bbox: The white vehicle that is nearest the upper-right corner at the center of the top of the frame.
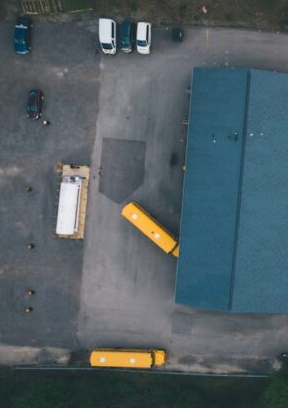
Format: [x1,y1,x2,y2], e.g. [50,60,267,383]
[136,22,153,55]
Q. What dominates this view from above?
paved ground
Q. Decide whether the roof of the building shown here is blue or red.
blue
